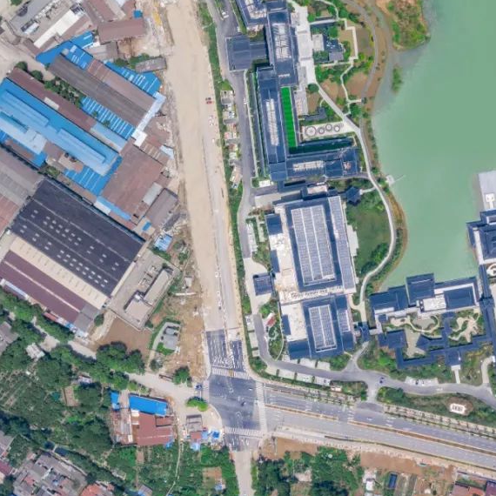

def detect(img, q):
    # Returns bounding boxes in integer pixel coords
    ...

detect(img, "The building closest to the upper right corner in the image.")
[312,32,343,61]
